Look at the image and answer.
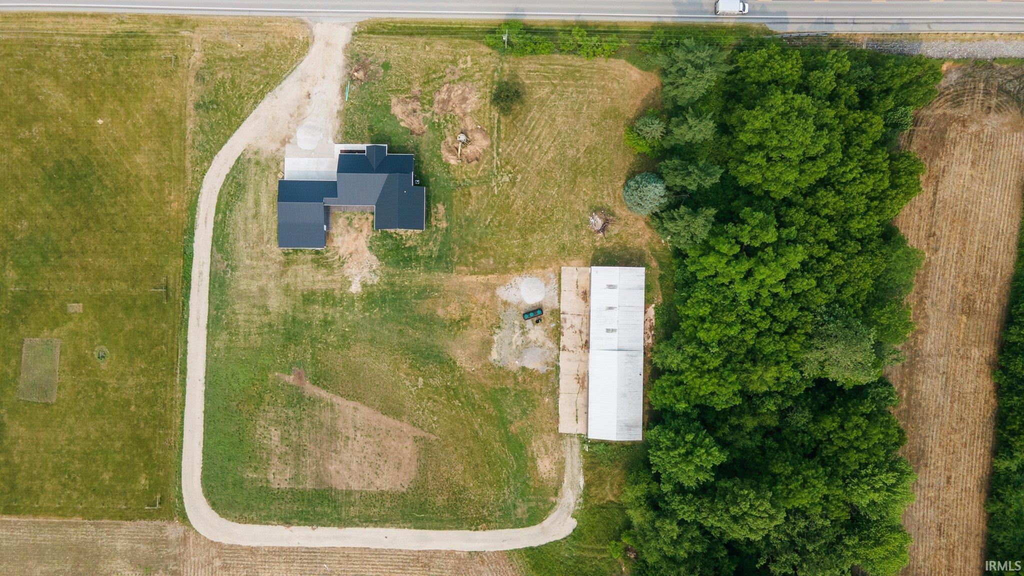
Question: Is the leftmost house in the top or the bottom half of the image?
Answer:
top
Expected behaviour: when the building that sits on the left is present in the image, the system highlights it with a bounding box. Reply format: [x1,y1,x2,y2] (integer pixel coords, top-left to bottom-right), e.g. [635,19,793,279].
[277,144,426,248]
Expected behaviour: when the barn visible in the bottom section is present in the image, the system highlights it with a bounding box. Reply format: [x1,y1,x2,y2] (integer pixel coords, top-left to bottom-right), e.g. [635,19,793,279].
[586,266,645,441]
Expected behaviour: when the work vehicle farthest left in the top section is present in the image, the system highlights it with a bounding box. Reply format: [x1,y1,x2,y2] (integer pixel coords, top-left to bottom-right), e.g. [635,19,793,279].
[455,132,474,164]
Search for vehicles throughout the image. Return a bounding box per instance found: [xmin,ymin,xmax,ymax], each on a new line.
[715,0,748,15]
[455,132,474,164]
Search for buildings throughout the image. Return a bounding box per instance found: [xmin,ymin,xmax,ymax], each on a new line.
[277,144,426,248]
[586,266,645,441]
